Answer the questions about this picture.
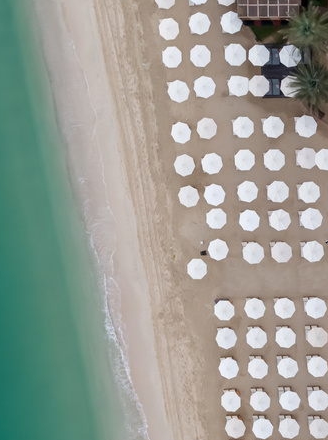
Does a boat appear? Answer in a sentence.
No, the scene contains no boat.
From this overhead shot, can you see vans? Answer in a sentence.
No, there appears to be no van in this shot.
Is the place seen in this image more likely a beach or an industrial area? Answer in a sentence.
The area seen from above is a beach.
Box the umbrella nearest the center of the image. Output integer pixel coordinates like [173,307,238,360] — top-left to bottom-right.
[178,186,199,206]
